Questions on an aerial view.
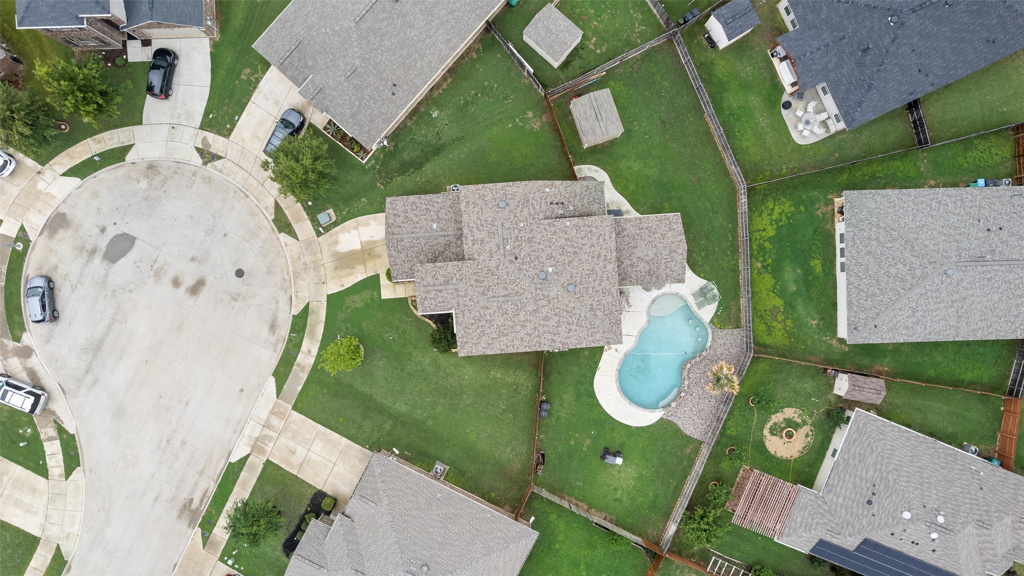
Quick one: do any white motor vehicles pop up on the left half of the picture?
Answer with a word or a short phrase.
Yes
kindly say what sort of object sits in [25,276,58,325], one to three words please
car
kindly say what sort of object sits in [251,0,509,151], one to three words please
house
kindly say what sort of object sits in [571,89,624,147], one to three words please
shed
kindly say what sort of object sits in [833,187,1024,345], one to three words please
house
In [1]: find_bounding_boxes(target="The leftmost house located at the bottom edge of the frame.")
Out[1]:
[283,447,540,576]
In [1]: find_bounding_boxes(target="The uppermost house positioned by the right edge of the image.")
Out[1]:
[772,0,1024,132]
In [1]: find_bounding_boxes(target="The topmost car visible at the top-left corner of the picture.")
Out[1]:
[145,48,177,99]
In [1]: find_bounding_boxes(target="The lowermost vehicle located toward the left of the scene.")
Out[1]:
[0,374,45,412]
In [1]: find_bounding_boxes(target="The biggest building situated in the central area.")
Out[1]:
[385,180,687,356]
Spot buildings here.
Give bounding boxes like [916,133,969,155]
[772,0,1024,132]
[833,187,1024,345]
[15,0,217,49]
[571,89,624,147]
[251,0,509,151]
[705,0,760,49]
[523,3,583,68]
[283,447,540,576]
[833,373,886,404]
[385,180,687,356]
[771,407,1024,576]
